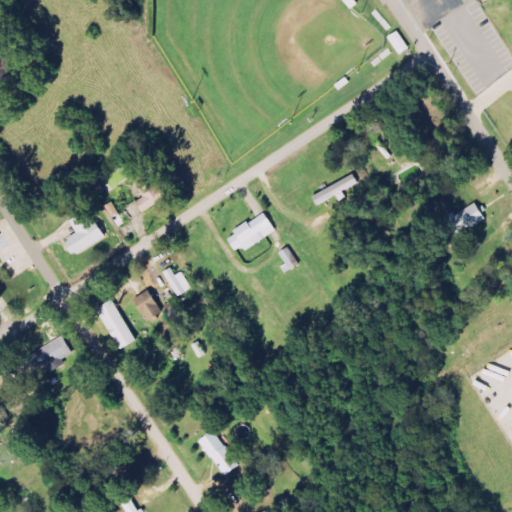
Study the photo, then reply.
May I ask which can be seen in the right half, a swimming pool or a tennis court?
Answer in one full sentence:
The feature located in the right half is a swimming pool.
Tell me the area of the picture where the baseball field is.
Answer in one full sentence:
You can find the baseball field in the top area of the picture.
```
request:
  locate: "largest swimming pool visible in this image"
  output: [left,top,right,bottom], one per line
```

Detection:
[392,161,416,186]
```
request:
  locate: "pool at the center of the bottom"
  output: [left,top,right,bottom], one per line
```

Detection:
[235,423,250,439]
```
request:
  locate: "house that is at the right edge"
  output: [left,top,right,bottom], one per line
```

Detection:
[452,202,486,230]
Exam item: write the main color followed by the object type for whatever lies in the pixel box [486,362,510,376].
white vehicle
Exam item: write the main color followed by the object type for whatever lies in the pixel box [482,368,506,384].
white vehicle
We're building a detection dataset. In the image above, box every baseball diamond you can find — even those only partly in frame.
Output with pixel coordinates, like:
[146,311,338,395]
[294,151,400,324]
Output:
[154,0,382,162]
